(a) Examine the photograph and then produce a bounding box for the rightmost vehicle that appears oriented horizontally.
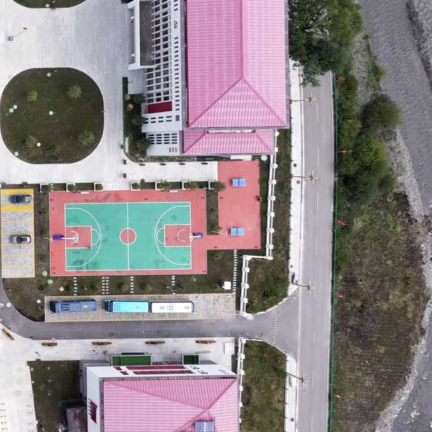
[152,302,200,317]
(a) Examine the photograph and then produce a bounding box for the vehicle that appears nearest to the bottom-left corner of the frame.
[50,301,100,316]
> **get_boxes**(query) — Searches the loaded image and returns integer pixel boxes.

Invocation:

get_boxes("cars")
[11,235,32,245]
[11,195,33,204]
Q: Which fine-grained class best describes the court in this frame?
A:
basketball court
